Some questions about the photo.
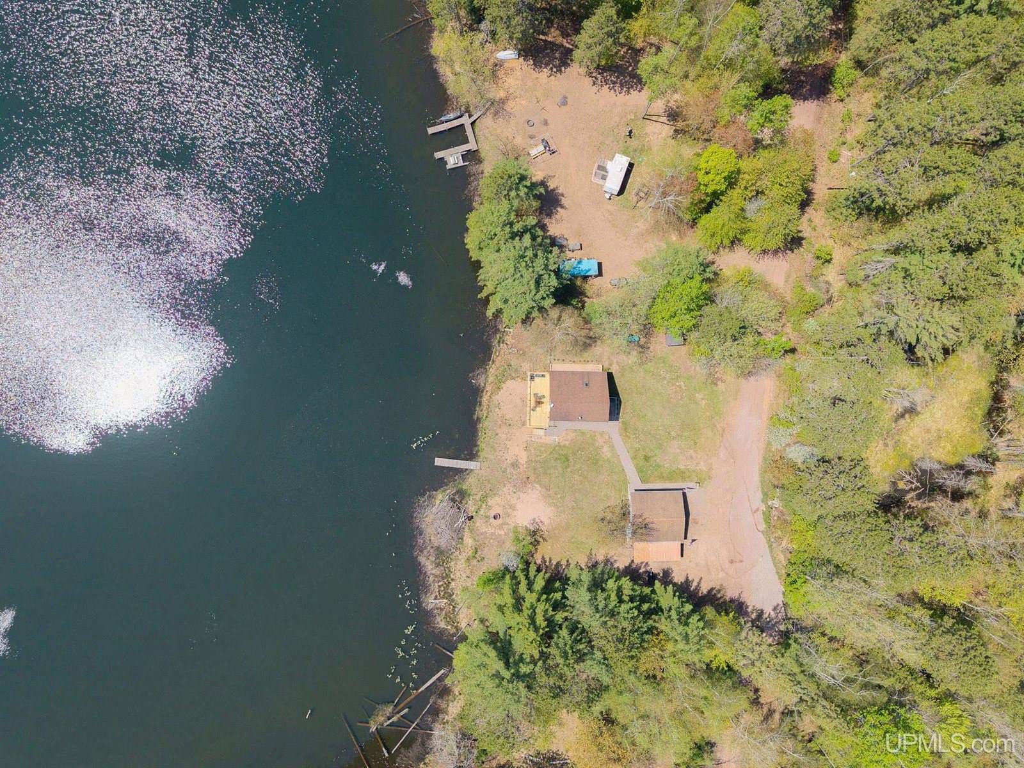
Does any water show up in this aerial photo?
Yes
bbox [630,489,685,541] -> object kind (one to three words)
building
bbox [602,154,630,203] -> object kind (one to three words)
vehicle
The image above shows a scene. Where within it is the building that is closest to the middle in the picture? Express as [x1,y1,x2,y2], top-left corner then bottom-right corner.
[529,365,618,435]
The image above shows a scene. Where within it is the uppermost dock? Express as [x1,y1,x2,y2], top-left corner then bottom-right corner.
[427,113,477,160]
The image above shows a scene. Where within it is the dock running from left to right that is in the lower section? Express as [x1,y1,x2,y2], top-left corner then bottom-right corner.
[435,457,480,469]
